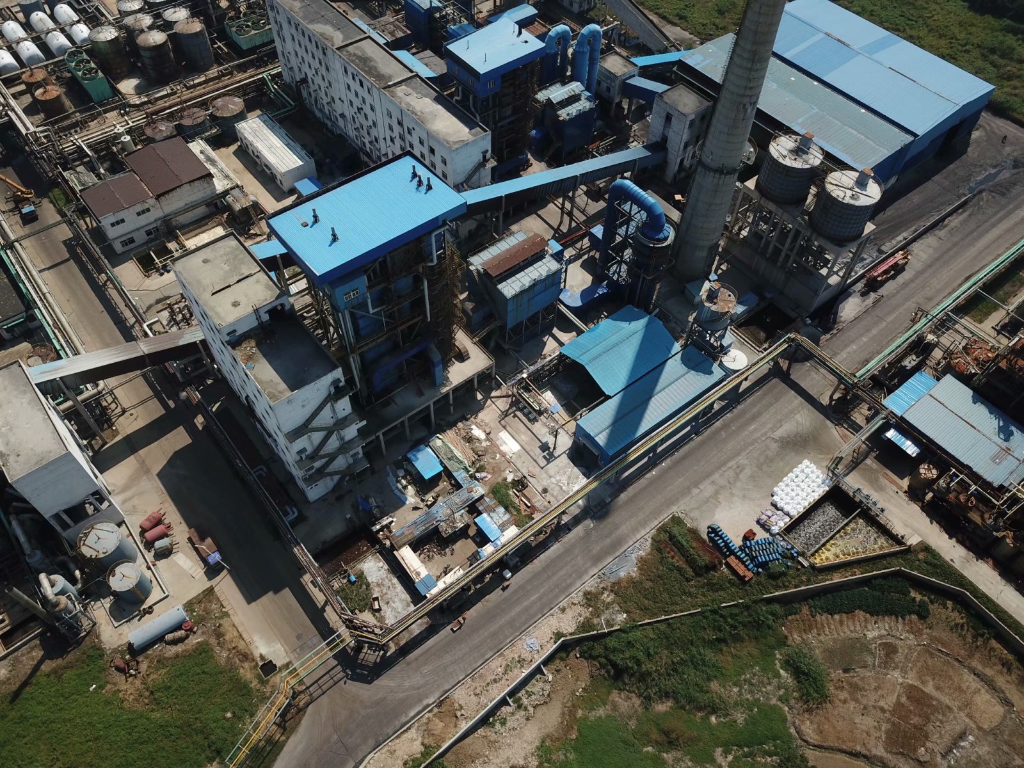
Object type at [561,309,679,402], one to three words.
shed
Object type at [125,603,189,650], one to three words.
storage tank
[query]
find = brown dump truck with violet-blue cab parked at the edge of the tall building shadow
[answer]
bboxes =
[186,519,229,577]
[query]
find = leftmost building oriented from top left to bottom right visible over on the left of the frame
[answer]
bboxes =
[0,357,126,550]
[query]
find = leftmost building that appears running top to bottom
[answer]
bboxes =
[0,272,32,344]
